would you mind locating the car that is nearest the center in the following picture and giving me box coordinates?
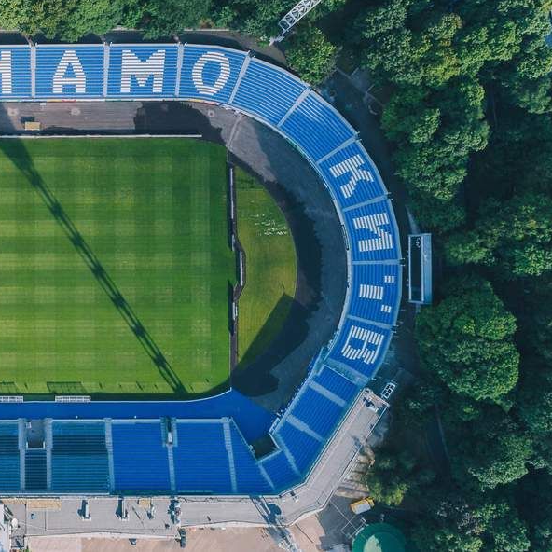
[381,381,397,400]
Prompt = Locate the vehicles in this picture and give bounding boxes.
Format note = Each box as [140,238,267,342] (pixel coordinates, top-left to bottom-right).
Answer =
[381,381,397,400]
[351,500,375,517]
